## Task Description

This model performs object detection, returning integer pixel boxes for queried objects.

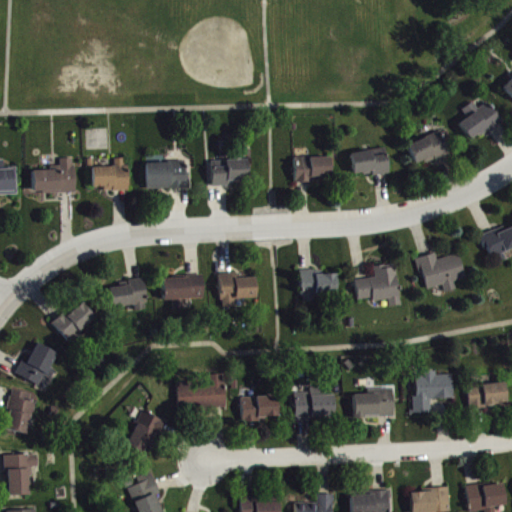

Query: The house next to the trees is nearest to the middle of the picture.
[216,272,260,307]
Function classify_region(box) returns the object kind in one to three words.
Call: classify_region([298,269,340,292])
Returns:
house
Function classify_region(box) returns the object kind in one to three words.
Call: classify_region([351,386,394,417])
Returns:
house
